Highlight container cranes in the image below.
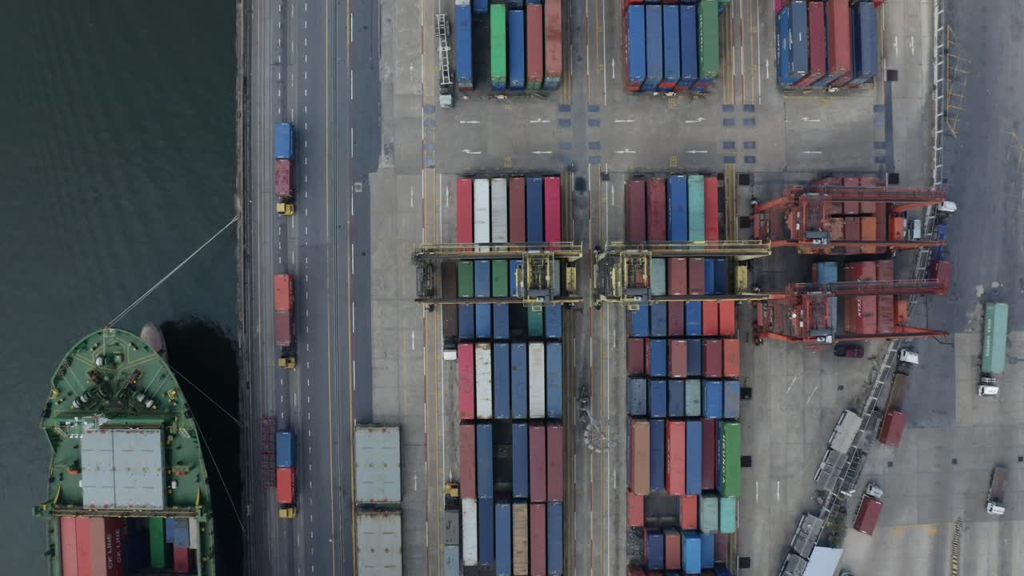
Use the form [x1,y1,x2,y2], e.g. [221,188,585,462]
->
[411,243,583,314]
[751,185,952,263]
[593,242,777,315]
[753,273,954,347]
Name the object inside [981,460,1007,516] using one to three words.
truck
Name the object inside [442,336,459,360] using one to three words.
vehicle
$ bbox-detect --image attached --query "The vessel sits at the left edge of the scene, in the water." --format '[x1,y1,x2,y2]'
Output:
[33,323,226,576]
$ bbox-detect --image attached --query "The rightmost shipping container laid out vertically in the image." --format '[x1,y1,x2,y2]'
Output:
[982,302,1008,373]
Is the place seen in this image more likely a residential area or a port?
port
